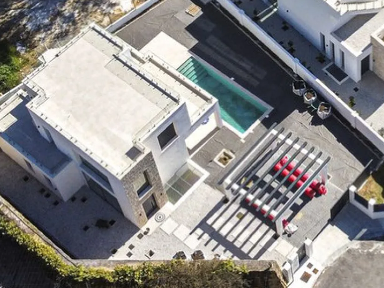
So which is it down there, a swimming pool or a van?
swimming pool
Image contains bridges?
No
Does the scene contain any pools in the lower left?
No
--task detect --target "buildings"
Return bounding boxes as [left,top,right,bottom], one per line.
[0,20,221,227]
[268,0,384,80]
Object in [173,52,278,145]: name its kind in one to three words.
swimming pool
